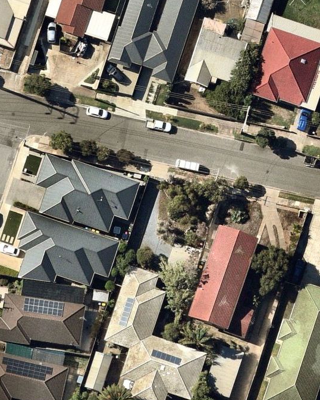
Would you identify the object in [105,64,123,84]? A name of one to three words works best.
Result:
car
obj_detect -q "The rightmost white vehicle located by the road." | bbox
[174,158,201,172]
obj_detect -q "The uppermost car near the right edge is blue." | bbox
[295,108,312,133]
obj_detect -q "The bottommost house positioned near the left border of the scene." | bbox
[0,351,70,400]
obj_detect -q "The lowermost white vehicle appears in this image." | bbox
[0,241,21,257]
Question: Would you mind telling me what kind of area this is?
residential area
